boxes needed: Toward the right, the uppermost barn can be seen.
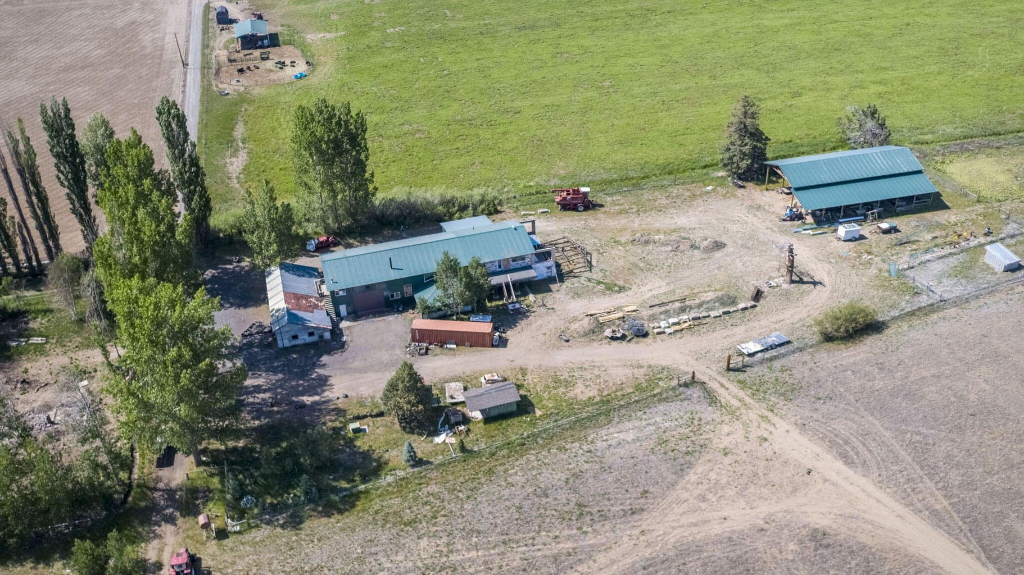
[767,144,939,220]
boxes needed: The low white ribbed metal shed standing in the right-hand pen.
[986,241,1023,272]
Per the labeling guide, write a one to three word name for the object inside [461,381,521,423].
building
